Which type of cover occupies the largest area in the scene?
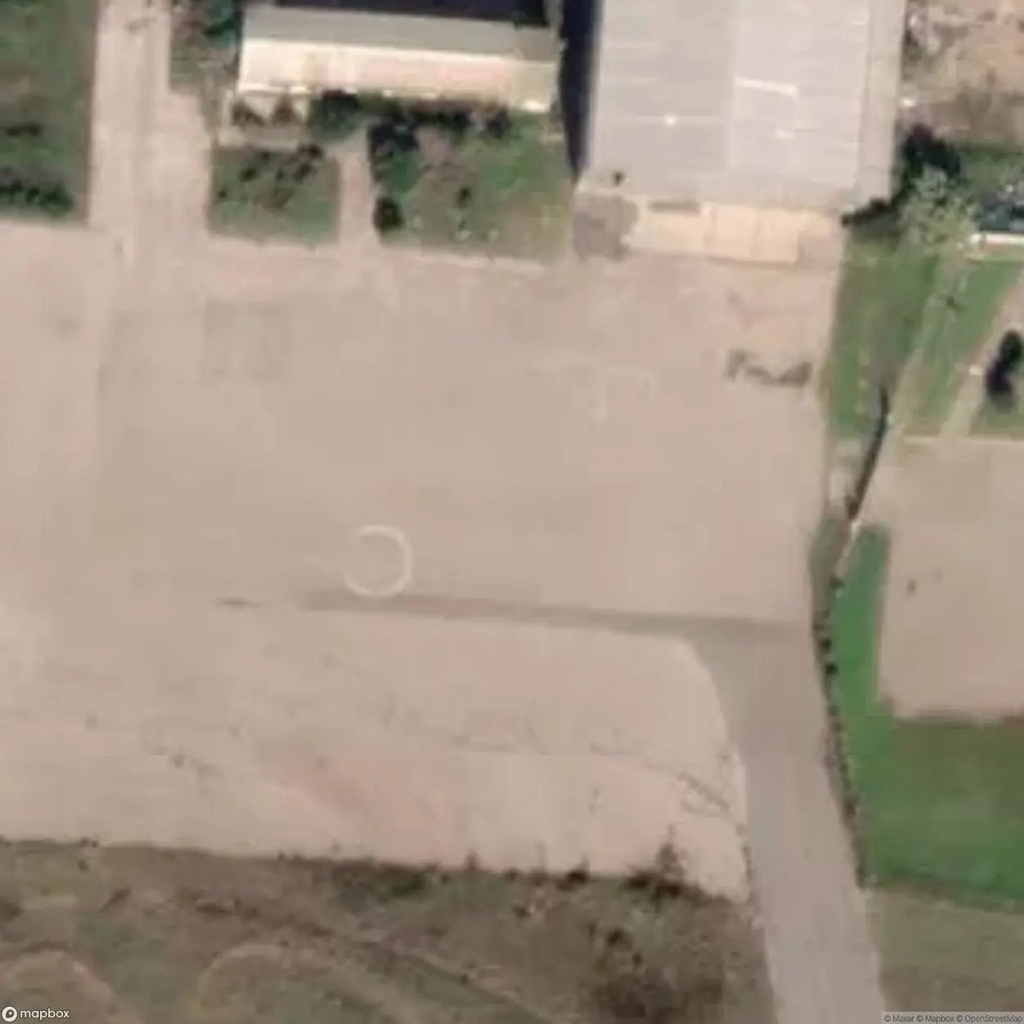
paved ground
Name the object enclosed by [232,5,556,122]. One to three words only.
shed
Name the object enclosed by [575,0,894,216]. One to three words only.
warehouse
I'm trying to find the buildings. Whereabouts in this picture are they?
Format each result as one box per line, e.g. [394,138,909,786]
[575,0,894,216]
[971,194,1024,248]
[232,5,556,122]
